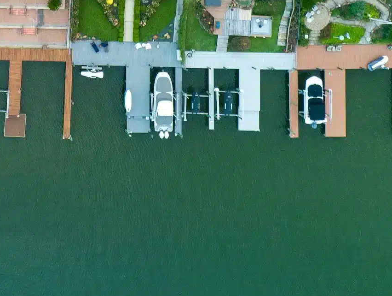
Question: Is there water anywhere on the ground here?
Yes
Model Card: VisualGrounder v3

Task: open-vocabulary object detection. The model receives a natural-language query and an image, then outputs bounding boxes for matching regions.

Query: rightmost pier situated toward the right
[279,45,392,137]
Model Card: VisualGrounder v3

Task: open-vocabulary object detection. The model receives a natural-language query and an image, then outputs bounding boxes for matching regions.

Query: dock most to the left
[0,47,74,141]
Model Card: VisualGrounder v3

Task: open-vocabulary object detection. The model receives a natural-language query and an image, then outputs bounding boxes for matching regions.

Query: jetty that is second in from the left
[72,43,188,138]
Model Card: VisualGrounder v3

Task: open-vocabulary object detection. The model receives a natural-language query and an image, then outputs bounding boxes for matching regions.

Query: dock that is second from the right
[185,52,295,131]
